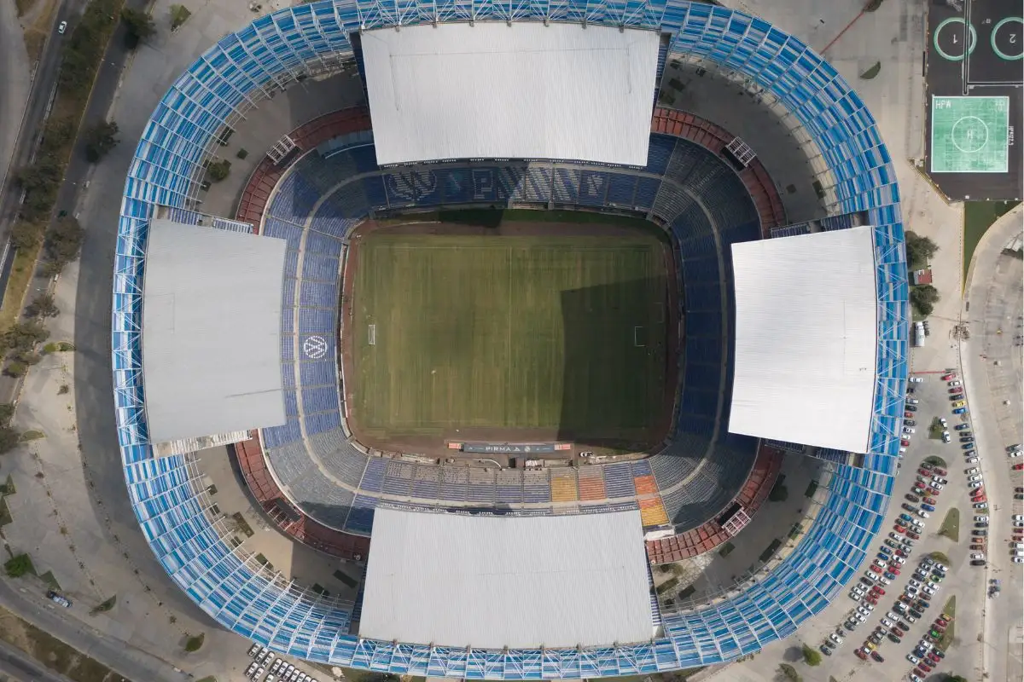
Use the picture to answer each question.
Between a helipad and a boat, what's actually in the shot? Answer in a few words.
helipad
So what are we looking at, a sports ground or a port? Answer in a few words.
sports ground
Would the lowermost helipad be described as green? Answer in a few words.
Yes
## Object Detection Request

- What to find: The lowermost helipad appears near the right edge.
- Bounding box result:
[931,95,1014,173]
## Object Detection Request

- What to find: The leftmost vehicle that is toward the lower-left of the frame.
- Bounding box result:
[49,591,69,607]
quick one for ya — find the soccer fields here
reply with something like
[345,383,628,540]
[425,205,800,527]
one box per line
[340,208,680,465]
